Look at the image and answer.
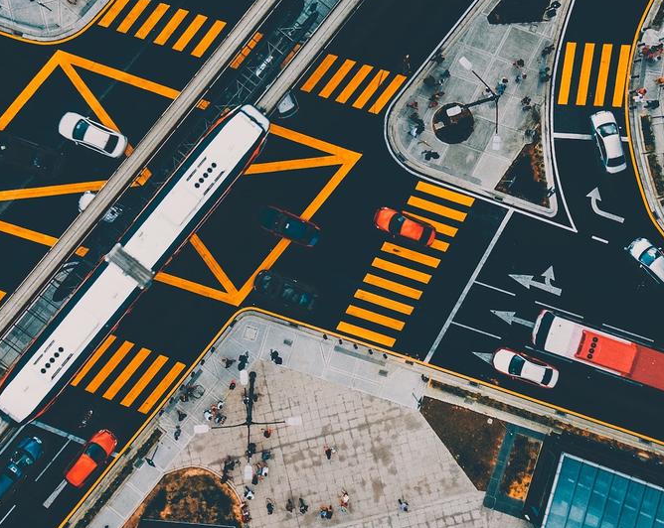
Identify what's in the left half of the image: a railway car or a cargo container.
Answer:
railway car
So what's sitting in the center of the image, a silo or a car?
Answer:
car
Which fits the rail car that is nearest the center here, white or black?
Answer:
white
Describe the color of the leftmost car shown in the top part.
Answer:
black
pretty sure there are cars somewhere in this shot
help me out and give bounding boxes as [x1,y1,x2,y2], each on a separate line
[585,111,626,173]
[65,425,117,487]
[59,112,130,158]
[276,92,300,118]
[255,203,324,248]
[625,236,664,289]
[253,267,318,309]
[374,207,437,246]
[490,346,557,388]
[0,129,60,175]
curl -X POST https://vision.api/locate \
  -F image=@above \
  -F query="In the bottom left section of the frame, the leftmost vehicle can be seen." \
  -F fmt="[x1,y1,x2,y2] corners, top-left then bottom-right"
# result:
[0,433,47,502]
